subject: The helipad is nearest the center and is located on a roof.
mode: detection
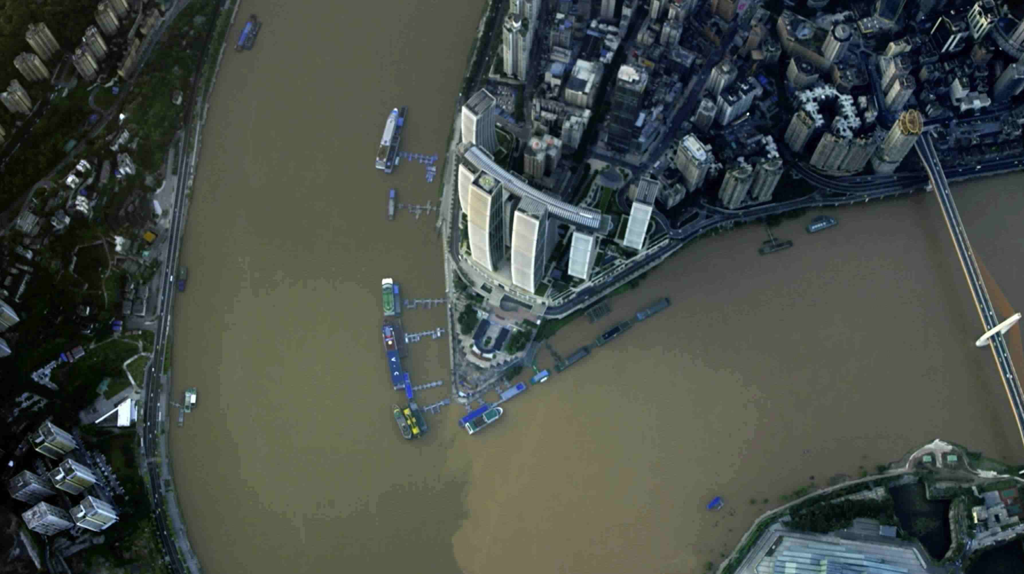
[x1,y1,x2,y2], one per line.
[478,176,496,192]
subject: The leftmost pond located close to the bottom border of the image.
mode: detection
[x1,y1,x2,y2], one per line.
[890,483,951,559]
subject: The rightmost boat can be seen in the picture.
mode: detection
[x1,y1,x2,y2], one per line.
[805,216,838,233]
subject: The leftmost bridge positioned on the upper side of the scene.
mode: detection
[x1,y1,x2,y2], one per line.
[460,148,612,237]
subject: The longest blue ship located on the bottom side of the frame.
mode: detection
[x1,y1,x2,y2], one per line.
[383,325,405,391]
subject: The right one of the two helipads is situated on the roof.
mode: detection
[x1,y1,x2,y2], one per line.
[835,26,849,38]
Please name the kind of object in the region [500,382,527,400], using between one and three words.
ship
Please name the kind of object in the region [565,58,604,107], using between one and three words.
building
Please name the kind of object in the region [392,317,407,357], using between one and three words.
pier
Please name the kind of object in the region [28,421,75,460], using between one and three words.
building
